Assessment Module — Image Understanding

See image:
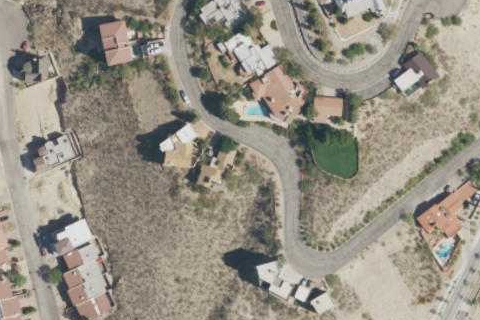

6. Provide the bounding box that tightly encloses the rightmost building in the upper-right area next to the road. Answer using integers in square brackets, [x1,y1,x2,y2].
[396,50,441,90]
